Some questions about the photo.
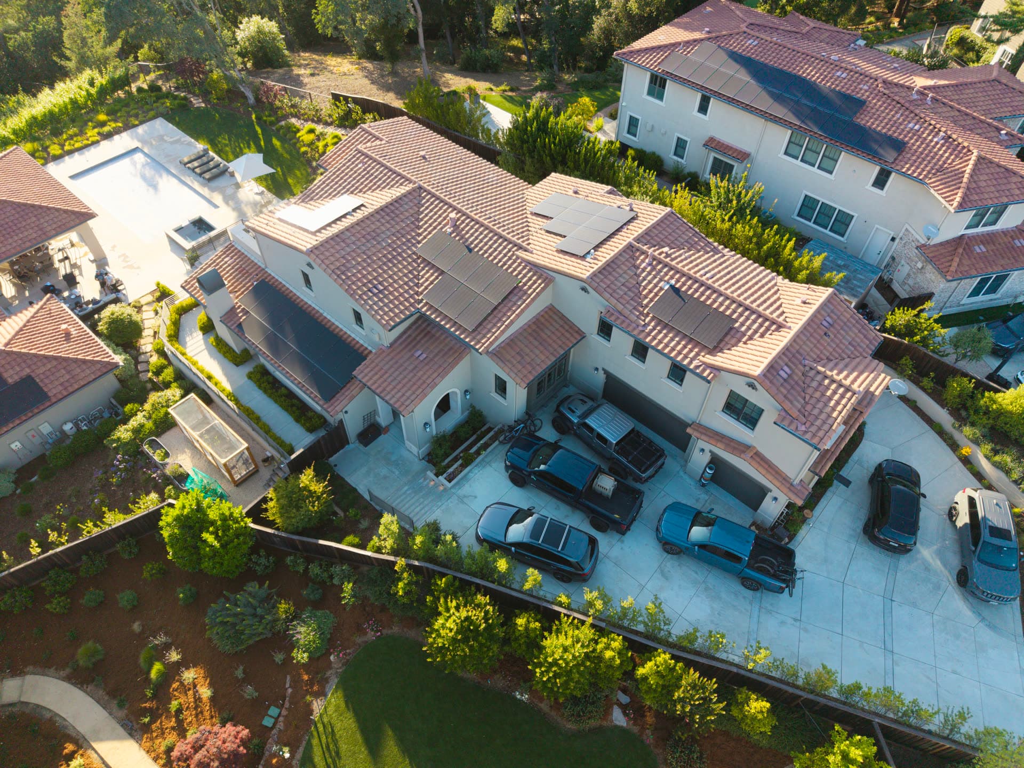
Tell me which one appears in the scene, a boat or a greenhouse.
greenhouse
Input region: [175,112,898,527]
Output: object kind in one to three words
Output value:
house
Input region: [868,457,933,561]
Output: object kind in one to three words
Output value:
car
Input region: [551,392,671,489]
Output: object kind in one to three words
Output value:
truck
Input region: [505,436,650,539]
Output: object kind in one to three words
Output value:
truck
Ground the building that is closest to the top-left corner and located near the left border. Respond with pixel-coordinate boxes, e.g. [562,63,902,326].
[0,144,108,268]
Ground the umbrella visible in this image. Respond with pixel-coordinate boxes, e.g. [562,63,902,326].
[215,148,287,199]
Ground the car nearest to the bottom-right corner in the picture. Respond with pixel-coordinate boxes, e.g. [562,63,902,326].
[952,491,1024,616]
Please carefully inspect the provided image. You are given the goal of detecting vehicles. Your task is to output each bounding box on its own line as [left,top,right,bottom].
[652,502,800,597]
[952,491,1024,616]
[868,457,933,561]
[986,307,1024,357]
[551,392,671,489]
[470,505,603,584]
[505,436,650,539]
